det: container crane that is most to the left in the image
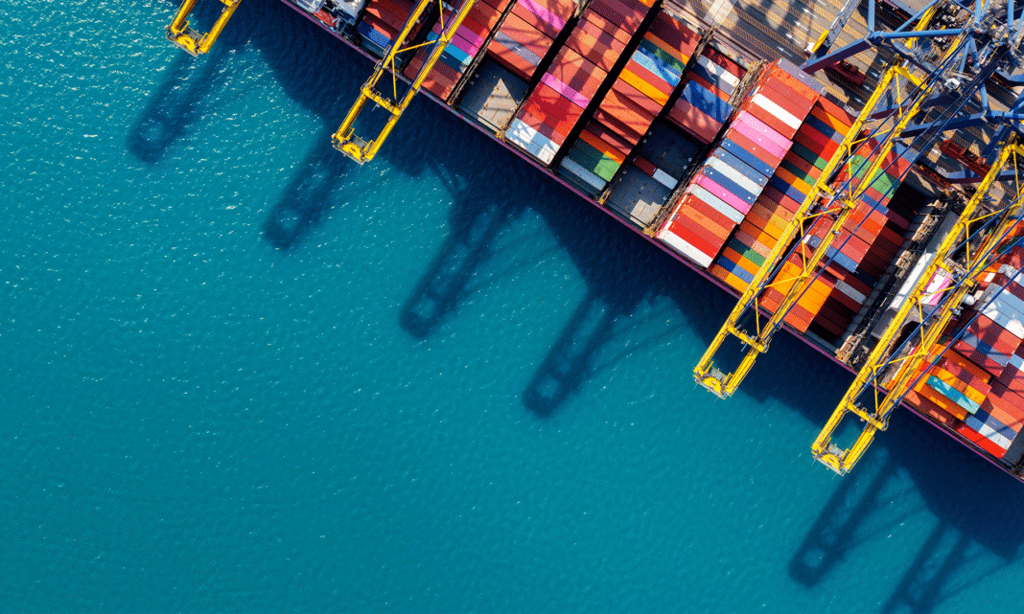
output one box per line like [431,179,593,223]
[162,0,240,56]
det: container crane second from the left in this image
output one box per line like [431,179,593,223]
[327,0,471,163]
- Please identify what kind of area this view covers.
port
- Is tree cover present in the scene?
No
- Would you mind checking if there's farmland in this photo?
No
